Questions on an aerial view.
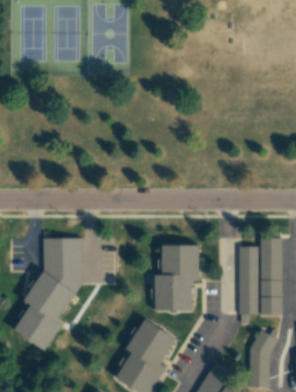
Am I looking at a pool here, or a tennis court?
tennis court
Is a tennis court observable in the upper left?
Yes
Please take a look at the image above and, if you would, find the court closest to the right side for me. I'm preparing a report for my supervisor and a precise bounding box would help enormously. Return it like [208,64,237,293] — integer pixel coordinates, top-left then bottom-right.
[92,4,128,63]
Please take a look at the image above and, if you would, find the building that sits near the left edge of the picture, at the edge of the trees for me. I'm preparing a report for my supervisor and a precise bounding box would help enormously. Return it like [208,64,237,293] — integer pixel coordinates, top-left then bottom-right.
[12,238,82,350]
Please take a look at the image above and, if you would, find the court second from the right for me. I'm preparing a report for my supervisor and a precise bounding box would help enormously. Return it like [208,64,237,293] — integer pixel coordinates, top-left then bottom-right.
[52,6,80,60]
